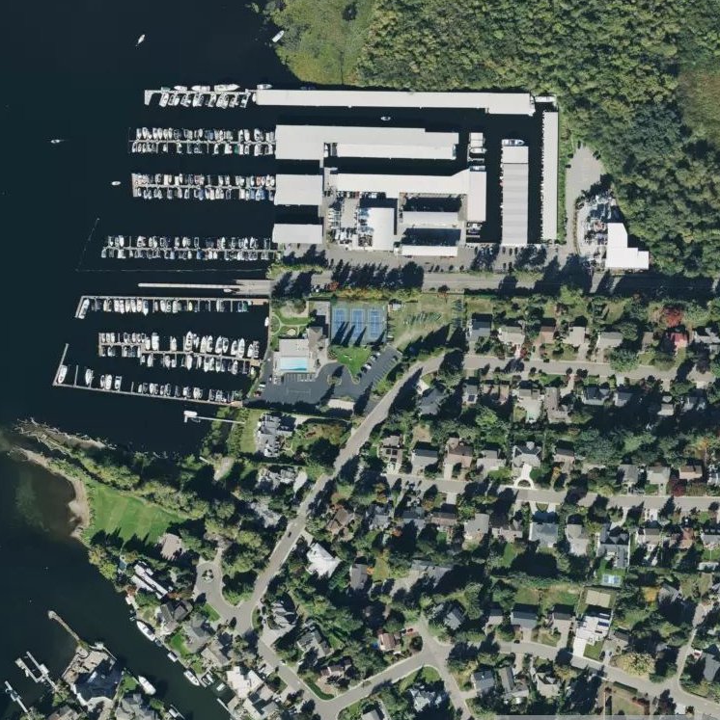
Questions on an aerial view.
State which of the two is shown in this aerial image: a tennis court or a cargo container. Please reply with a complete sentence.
There is a tennis court in the scene.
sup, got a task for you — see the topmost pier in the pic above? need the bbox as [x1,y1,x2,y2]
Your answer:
[144,89,257,105]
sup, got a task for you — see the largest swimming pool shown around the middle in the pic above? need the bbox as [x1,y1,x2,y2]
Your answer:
[280,357,309,371]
